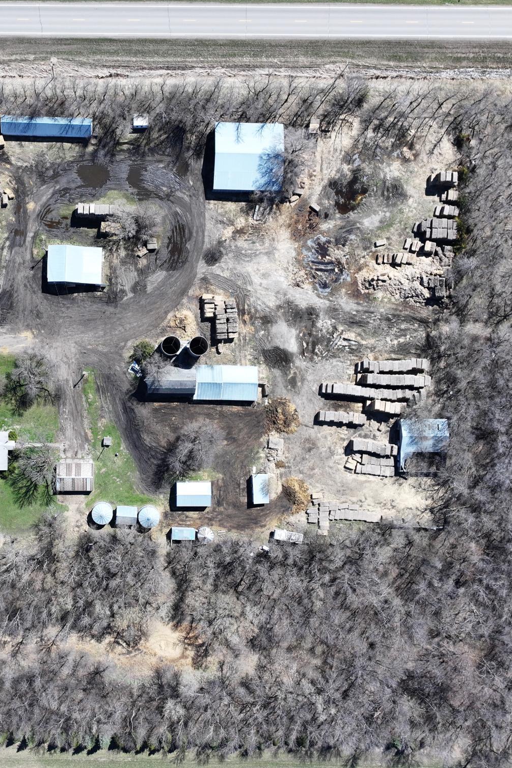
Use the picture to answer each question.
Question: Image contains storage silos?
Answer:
Yes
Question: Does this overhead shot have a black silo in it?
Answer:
Yes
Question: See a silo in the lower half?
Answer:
Yes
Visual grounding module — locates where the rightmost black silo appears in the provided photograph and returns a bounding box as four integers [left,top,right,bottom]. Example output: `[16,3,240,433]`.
[187,336,209,356]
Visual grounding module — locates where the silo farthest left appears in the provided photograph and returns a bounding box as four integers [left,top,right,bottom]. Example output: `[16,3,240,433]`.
[92,500,113,524]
